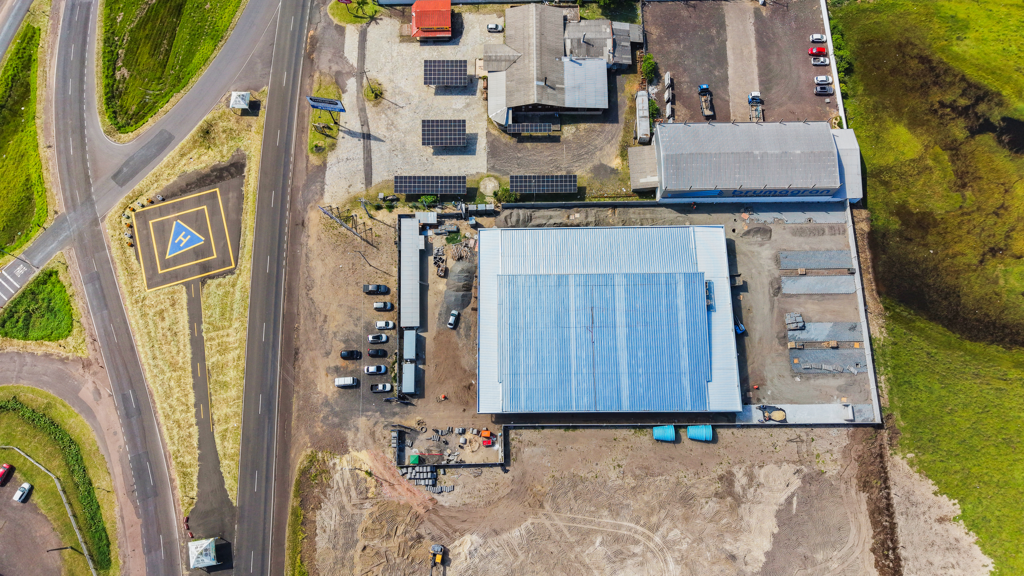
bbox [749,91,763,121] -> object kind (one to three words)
vehicle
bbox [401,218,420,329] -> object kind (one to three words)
shed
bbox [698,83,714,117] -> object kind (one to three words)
vehicle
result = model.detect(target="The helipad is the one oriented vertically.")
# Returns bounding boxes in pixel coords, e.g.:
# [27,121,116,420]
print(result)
[132,175,245,576]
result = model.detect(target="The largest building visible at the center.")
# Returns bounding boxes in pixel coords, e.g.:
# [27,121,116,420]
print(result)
[478,227,740,412]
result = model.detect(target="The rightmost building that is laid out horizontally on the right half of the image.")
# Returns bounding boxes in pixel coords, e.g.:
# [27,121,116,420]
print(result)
[651,118,842,200]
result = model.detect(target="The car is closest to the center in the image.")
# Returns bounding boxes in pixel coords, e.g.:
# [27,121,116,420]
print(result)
[446,310,459,330]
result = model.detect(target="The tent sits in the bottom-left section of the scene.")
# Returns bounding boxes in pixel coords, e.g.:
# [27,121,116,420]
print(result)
[188,537,222,569]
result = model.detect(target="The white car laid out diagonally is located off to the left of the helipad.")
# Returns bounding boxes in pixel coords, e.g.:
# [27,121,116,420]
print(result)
[12,482,33,503]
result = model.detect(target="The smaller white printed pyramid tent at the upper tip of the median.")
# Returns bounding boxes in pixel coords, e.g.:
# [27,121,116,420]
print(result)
[229,91,254,114]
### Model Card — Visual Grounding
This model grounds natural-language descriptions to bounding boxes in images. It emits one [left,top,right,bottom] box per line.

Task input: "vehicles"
[486,24,503,33]
[367,348,387,358]
[12,482,33,503]
[698,83,714,117]
[375,320,395,329]
[333,377,358,387]
[0,464,14,486]
[373,301,393,311]
[807,47,827,56]
[812,86,834,96]
[363,284,388,294]
[366,333,388,343]
[364,364,387,374]
[813,76,832,85]
[809,34,826,43]
[339,349,362,359]
[446,310,459,330]
[749,91,763,121]
[810,57,829,66]
[428,539,446,576]
[369,382,392,392]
